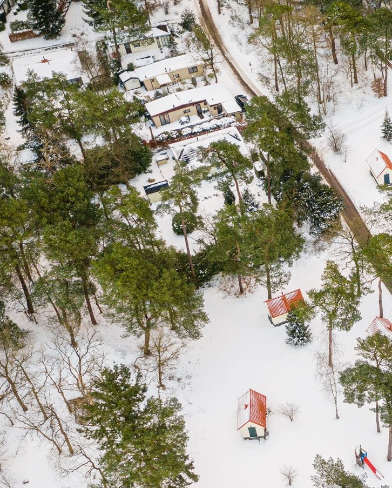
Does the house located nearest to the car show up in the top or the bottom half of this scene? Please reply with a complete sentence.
The house located nearest to the car is in the top half of the image.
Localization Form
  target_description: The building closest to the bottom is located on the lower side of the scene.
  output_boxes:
[237,388,267,438]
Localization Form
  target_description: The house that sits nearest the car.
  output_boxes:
[143,84,238,129]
